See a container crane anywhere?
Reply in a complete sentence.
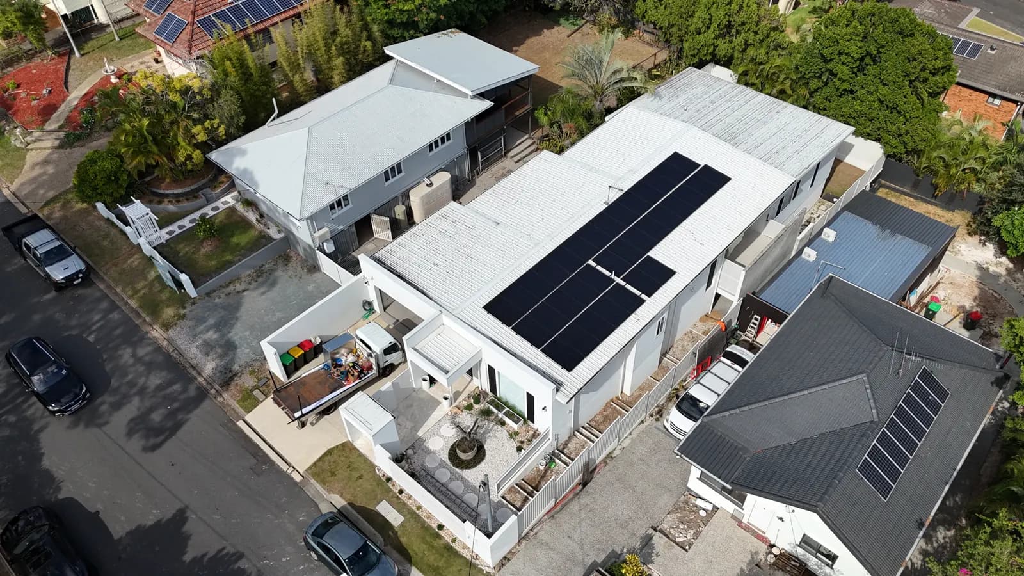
No, the photo shows no container crane.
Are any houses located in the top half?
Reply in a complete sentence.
Yes, looking in the top half, one can make out a house.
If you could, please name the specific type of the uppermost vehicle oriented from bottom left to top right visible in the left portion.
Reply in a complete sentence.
I'd identify the uppermost vehicle oriented from bottom left to top right visible in the left portion as a truck.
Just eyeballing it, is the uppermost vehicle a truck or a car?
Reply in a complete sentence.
The uppermost vehicle in the image is a truck.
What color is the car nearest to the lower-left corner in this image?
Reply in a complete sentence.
The color of the car nearest to the lower-left corner is black.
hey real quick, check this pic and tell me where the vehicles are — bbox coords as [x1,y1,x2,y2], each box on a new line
[265,315,403,425]
[1,507,90,576]
[7,333,84,413]
[665,346,751,440]
[301,513,399,576]
[4,217,88,290]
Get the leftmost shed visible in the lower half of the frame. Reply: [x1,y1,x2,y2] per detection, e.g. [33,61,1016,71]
[337,390,402,457]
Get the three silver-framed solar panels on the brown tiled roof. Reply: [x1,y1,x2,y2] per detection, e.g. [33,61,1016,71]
[920,27,984,59]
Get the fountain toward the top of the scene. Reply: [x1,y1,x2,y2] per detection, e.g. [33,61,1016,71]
[97,54,120,83]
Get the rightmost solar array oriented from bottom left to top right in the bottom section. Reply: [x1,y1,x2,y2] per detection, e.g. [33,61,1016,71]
[862,357,959,492]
